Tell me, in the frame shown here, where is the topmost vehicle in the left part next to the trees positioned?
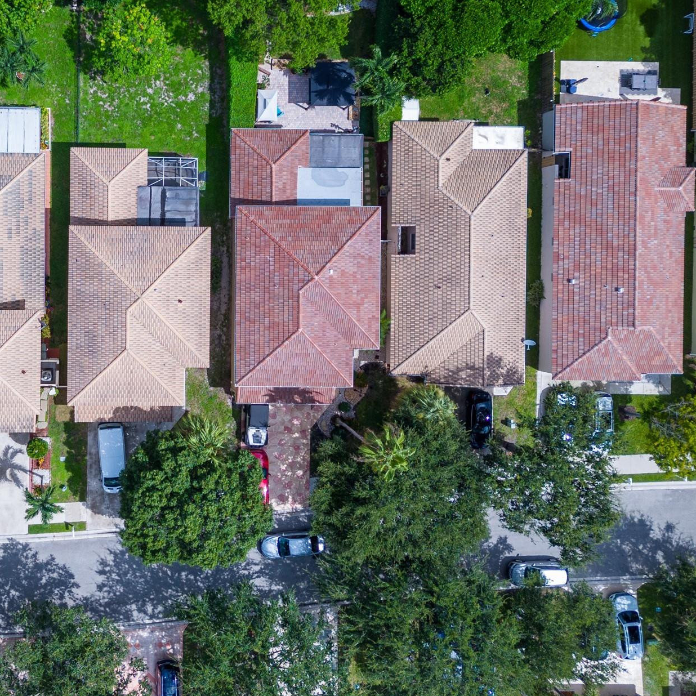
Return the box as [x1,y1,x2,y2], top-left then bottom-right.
[240,405,270,450]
